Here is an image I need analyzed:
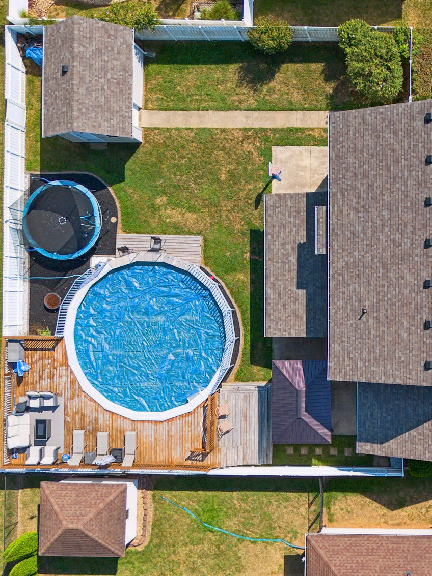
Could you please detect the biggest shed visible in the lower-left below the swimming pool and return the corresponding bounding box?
[39,478,137,558]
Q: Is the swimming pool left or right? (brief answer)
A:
left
